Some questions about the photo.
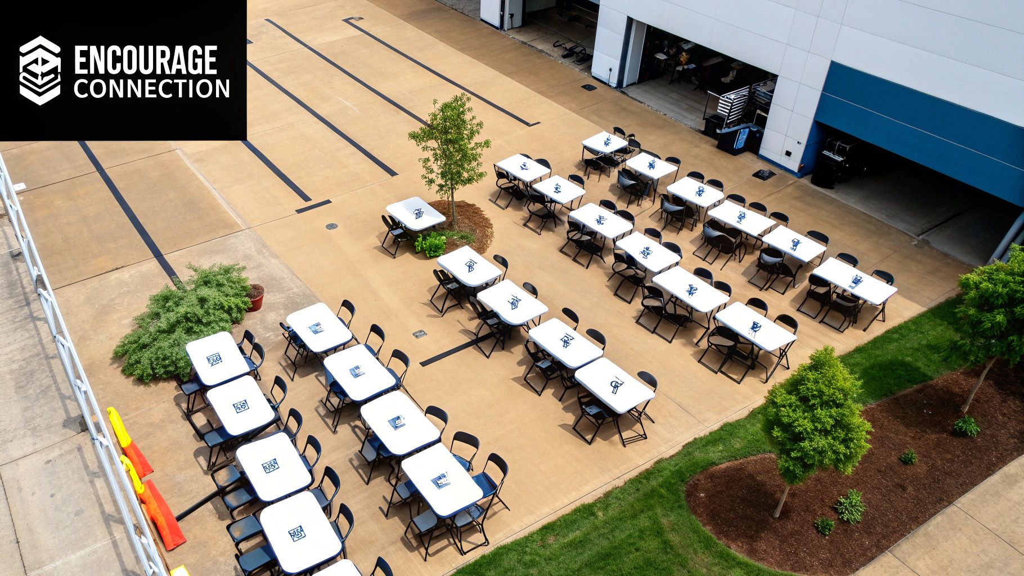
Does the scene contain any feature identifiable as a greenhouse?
No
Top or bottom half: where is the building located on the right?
top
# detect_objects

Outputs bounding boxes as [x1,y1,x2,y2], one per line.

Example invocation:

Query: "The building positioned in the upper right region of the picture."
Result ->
[481,0,1024,264]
